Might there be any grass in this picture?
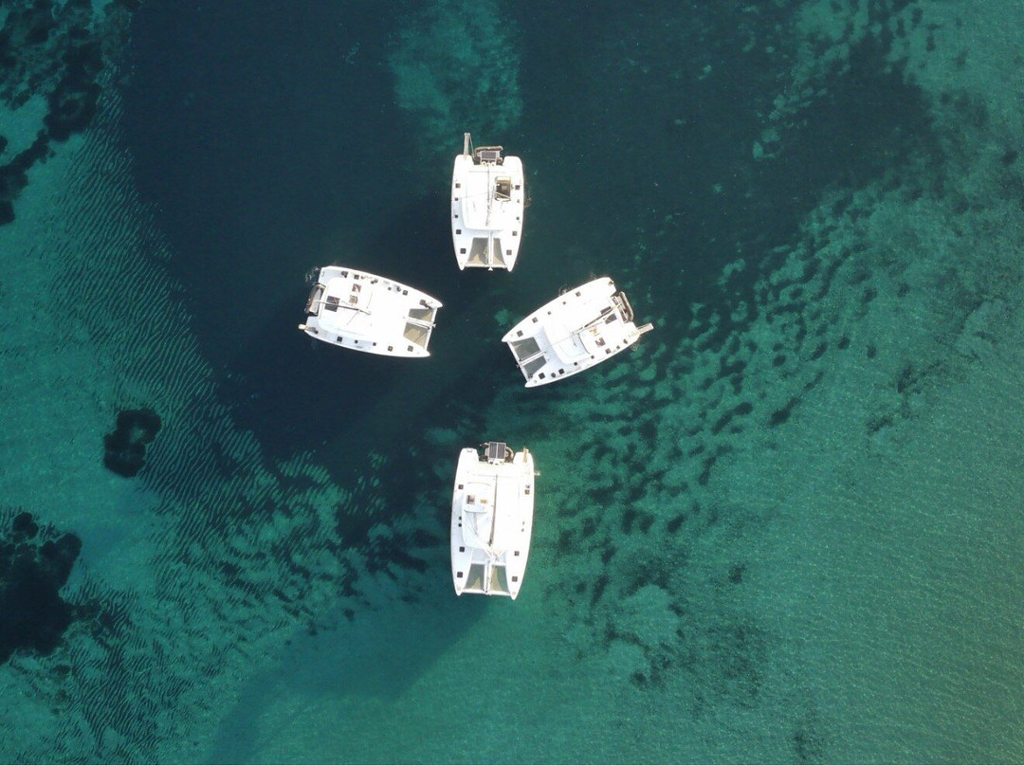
Yes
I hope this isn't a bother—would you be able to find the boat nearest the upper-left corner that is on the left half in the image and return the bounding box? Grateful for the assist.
[306,283,326,315]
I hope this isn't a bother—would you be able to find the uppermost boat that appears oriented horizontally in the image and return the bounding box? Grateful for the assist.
[474,149,506,164]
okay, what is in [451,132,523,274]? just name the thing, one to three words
boat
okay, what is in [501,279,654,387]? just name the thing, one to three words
boat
